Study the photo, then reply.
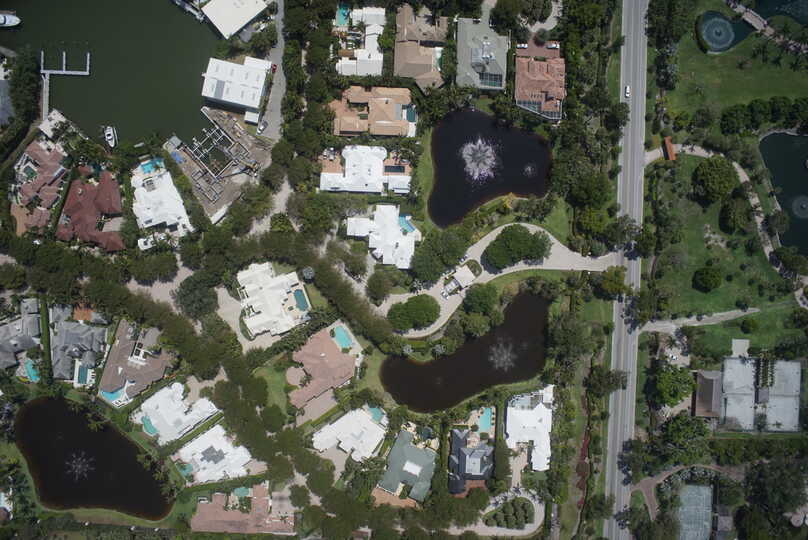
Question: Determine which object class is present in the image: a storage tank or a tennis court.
tennis court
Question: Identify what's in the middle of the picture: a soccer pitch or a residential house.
residential house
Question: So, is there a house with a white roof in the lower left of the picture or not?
Yes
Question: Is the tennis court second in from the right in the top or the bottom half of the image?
bottom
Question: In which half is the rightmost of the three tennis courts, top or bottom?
bottom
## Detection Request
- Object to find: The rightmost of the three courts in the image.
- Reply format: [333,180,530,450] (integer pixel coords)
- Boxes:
[769,360,801,432]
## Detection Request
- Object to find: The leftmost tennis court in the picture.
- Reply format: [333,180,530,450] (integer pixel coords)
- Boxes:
[679,486,713,540]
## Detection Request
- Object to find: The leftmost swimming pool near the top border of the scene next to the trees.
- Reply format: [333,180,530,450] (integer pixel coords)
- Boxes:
[337,4,350,26]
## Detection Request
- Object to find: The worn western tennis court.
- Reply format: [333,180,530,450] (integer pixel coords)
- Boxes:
[724,358,754,431]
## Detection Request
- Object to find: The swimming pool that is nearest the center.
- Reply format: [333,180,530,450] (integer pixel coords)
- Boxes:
[399,214,415,233]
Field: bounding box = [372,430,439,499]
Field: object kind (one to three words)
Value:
house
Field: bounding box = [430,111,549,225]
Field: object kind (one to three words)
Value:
pond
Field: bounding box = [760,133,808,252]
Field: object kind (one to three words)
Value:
pond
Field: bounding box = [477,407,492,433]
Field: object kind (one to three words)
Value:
swimming pool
